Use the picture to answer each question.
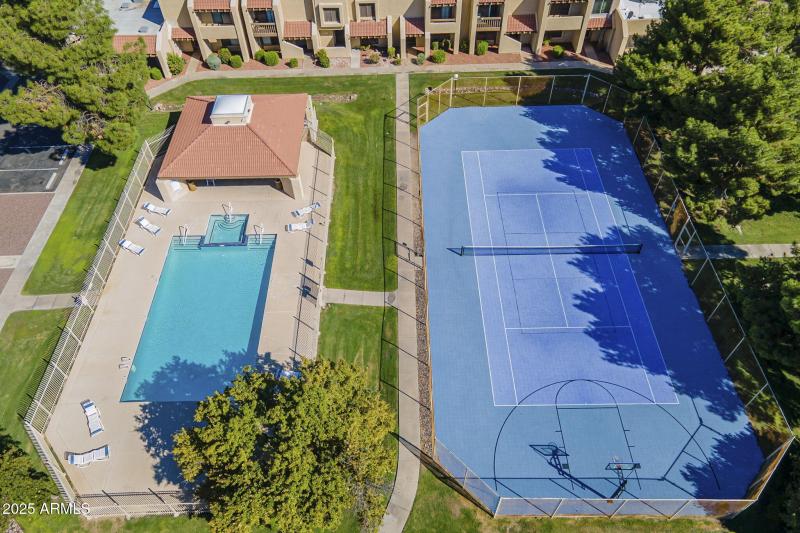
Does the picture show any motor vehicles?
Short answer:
No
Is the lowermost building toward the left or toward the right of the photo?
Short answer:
left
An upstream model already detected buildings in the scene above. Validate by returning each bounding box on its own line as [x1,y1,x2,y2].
[24,0,670,77]
[155,91,320,202]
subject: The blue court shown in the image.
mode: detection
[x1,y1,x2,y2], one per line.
[417,104,764,520]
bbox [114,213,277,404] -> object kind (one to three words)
swimming pool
